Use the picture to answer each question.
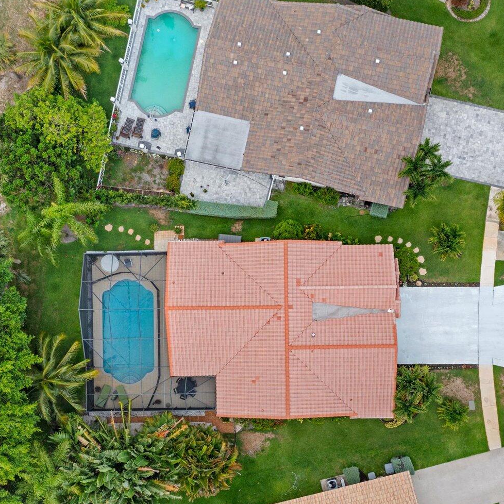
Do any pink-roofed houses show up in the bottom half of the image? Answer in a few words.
Yes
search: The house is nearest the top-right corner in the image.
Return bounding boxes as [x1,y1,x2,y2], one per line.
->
[184,0,445,209]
